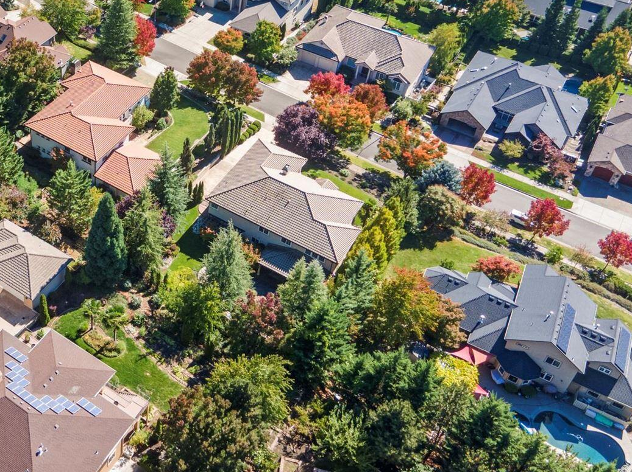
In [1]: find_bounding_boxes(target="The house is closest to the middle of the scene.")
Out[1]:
[206,137,365,279]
